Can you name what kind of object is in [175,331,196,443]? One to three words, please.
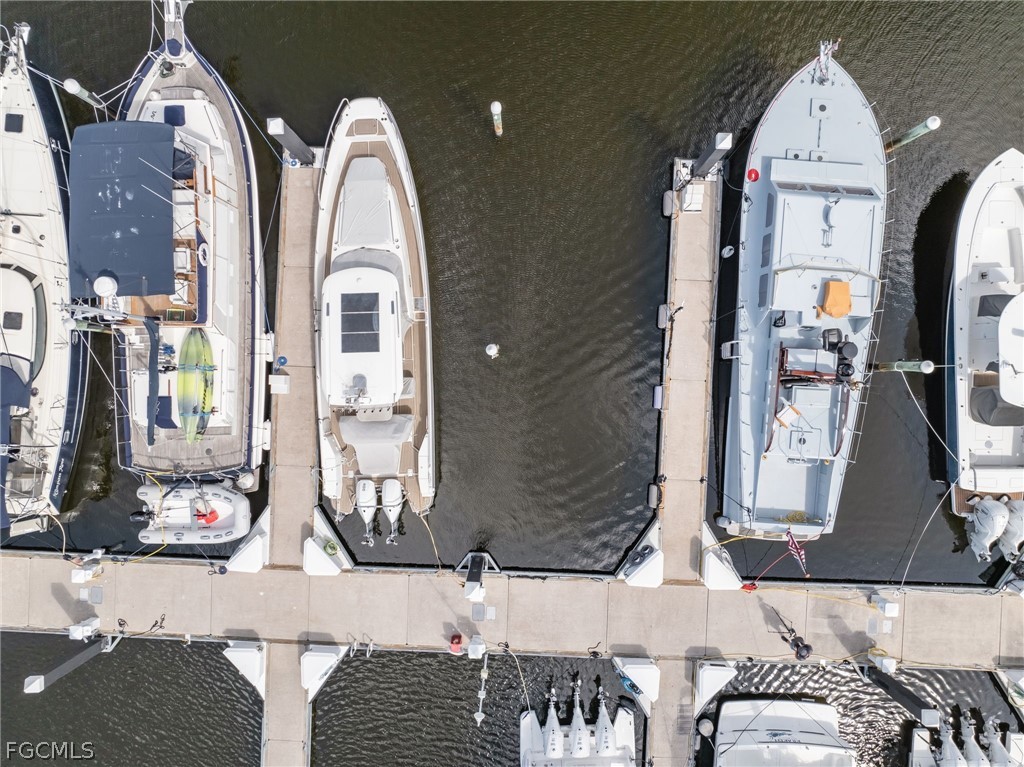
boat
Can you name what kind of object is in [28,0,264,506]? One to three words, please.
boat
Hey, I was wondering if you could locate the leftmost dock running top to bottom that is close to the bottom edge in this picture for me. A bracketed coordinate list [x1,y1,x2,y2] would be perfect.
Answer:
[259,646,315,767]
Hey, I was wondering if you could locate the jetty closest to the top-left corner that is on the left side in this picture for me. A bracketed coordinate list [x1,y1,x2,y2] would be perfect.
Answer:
[269,162,325,565]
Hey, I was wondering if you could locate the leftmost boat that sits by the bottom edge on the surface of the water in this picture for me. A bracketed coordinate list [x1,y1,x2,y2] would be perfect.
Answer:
[519,673,637,767]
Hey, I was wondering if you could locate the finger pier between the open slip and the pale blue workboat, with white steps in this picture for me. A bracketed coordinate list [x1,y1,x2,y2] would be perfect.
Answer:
[653,162,724,582]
